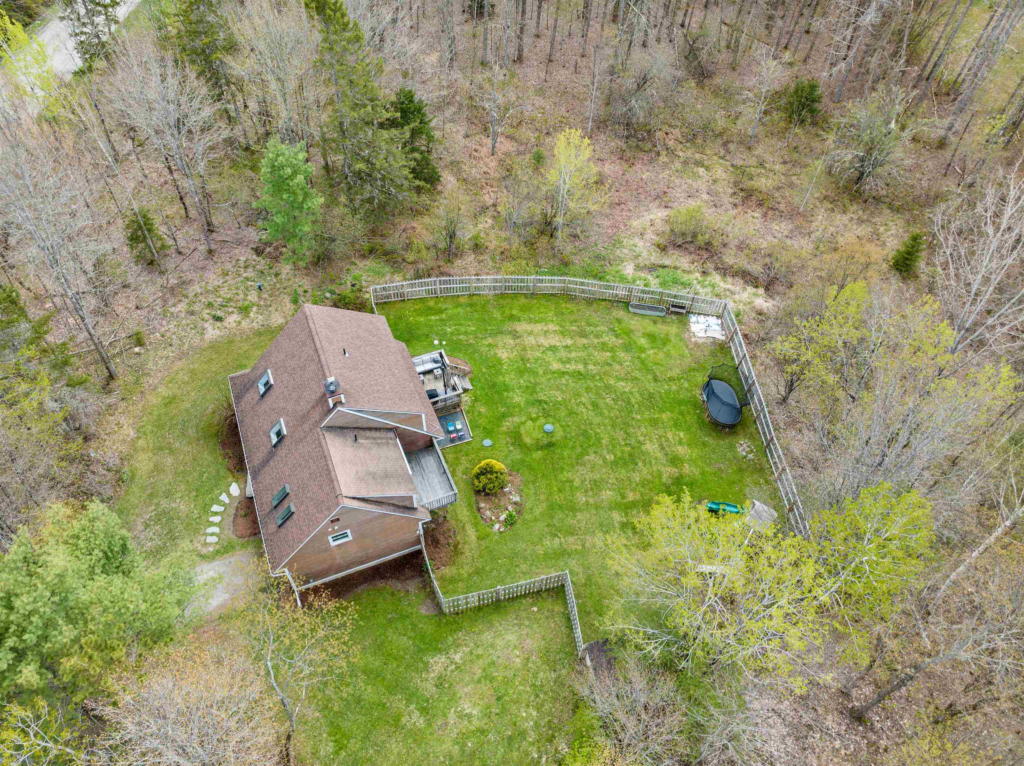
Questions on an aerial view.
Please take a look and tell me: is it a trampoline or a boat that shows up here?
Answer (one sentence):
It is a trampoline that can be seen here.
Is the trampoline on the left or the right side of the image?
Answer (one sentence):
The trampoline sits on the right side.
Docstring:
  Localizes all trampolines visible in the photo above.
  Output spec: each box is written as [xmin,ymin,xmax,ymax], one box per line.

[697,363,751,431]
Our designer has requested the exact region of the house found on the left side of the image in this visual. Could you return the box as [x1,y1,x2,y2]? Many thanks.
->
[227,303,458,608]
